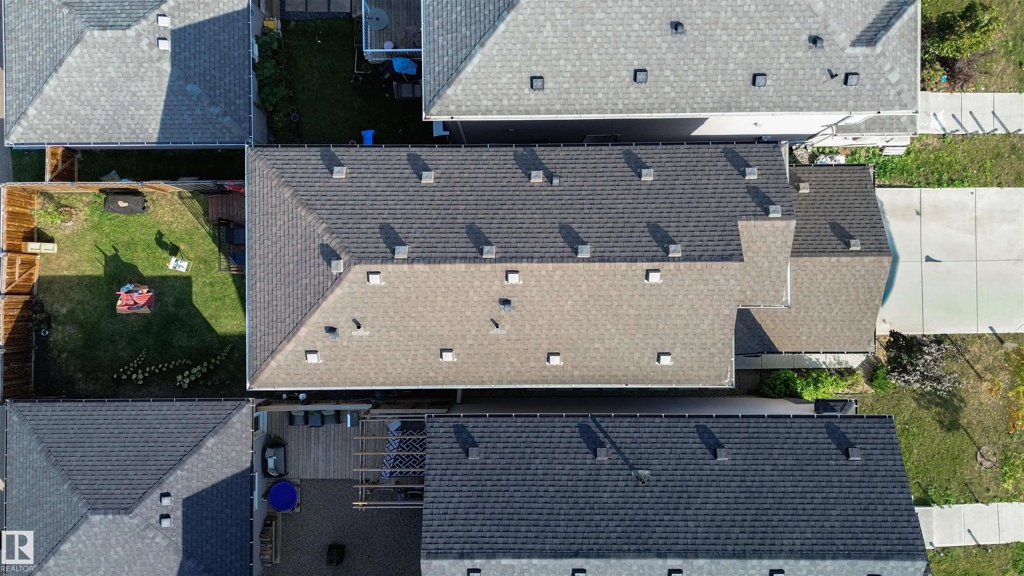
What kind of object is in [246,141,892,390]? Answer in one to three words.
house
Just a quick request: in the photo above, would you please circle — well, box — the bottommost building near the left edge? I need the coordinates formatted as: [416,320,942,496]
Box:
[5,398,270,576]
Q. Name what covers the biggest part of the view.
buildings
